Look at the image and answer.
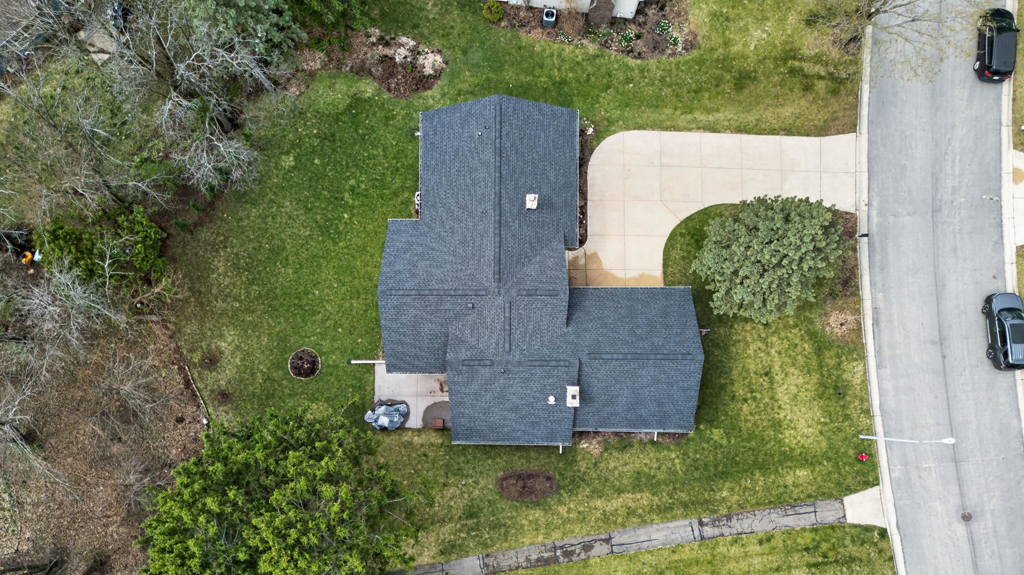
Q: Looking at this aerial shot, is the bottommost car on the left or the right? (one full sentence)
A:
The bottommost car sits on the right side.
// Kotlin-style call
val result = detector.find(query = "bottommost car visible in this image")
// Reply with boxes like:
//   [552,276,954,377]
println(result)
[981,292,1024,372]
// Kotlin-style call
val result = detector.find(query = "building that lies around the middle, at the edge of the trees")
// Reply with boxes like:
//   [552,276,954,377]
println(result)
[379,92,702,452]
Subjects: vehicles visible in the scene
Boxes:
[969,9,1018,87]
[981,292,1024,372]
